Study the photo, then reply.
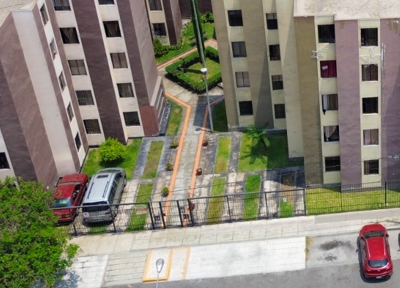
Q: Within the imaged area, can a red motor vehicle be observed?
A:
Yes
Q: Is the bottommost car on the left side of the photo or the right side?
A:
right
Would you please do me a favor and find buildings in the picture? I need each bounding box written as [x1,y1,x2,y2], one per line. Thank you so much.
[212,0,400,192]
[0,0,184,215]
